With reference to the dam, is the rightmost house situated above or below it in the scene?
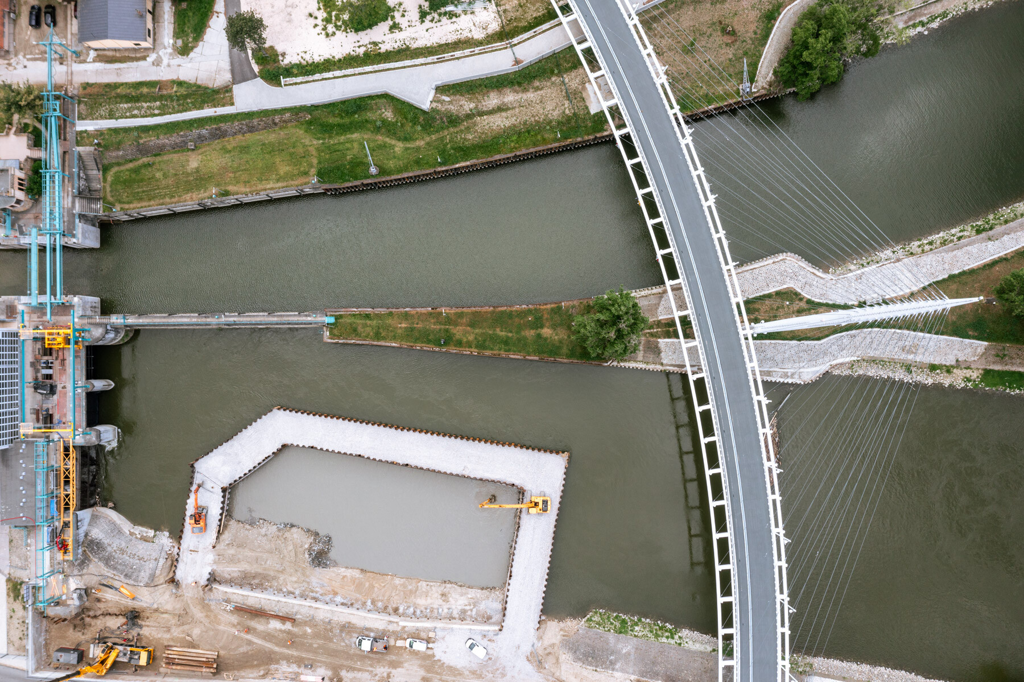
above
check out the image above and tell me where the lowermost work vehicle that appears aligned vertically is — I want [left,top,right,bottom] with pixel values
[185,486,205,537]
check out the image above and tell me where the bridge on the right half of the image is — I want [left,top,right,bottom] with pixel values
[553,0,985,682]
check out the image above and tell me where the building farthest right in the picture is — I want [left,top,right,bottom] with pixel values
[72,0,153,49]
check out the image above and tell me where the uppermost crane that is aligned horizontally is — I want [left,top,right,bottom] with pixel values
[17,323,83,348]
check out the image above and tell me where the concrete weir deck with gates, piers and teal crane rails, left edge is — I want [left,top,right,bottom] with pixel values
[0,296,139,512]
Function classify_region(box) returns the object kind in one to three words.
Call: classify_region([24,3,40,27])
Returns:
car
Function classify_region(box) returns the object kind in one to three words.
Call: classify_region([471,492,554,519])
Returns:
work vehicle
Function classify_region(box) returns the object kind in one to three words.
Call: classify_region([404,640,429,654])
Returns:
vehicle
